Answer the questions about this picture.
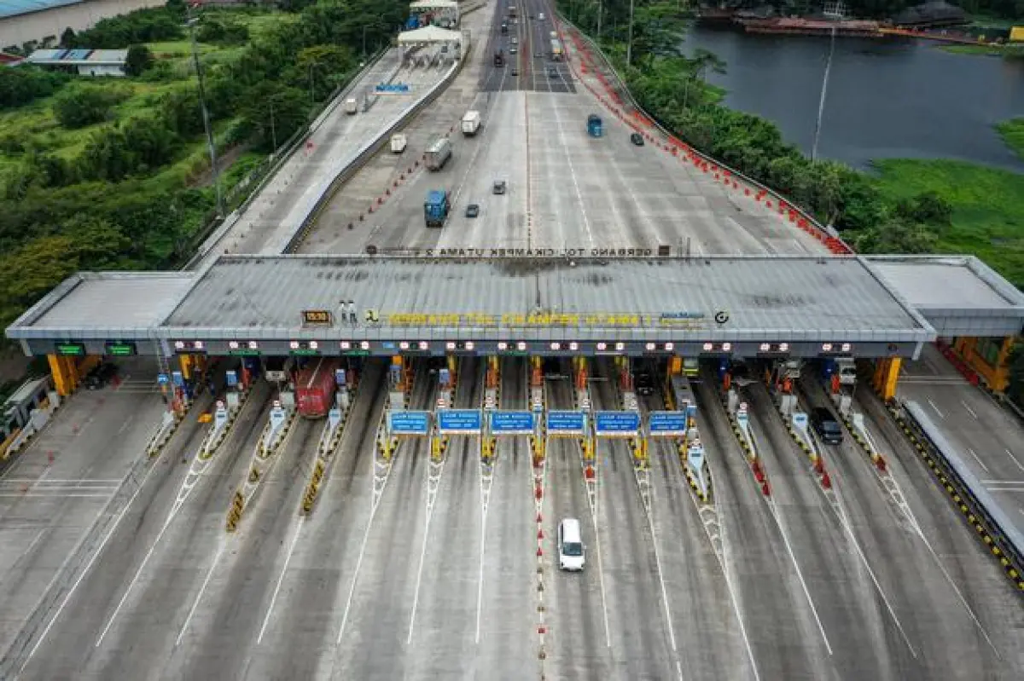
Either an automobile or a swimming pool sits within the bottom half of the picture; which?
automobile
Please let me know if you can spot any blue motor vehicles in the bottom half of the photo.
No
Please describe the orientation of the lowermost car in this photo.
up and down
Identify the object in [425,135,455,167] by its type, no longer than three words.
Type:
truck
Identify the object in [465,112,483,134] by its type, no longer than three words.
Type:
vehicle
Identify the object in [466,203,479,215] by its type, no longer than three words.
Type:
vehicle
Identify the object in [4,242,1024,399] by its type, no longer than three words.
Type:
toll station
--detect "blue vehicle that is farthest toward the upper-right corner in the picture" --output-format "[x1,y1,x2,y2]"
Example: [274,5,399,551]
[586,113,601,135]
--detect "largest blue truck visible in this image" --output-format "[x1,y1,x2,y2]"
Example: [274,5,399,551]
[427,189,452,223]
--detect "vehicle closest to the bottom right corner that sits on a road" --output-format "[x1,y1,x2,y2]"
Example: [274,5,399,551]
[808,403,842,441]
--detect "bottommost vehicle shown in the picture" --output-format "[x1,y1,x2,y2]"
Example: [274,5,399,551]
[558,517,586,570]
